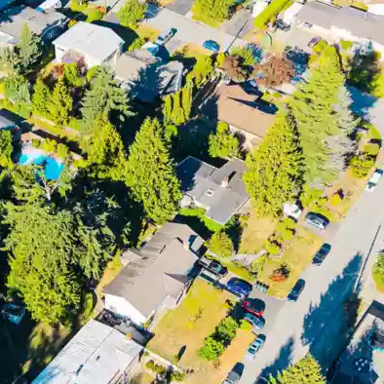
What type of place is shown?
residential area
